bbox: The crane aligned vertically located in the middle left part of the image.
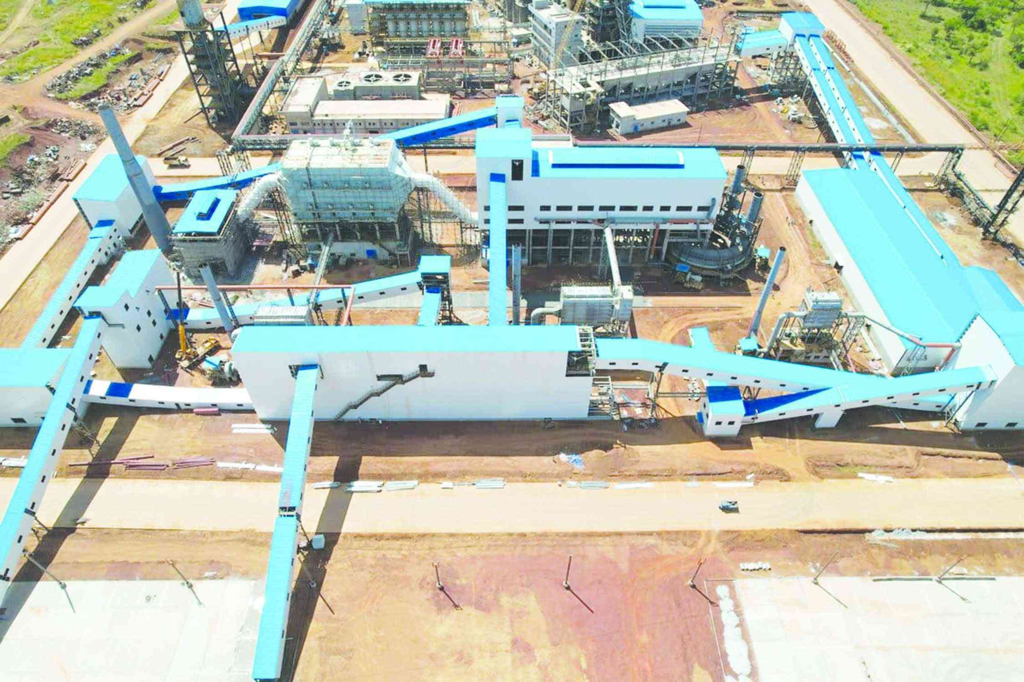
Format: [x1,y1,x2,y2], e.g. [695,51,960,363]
[174,267,214,370]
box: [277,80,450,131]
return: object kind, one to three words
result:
building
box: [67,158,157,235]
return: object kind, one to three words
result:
building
